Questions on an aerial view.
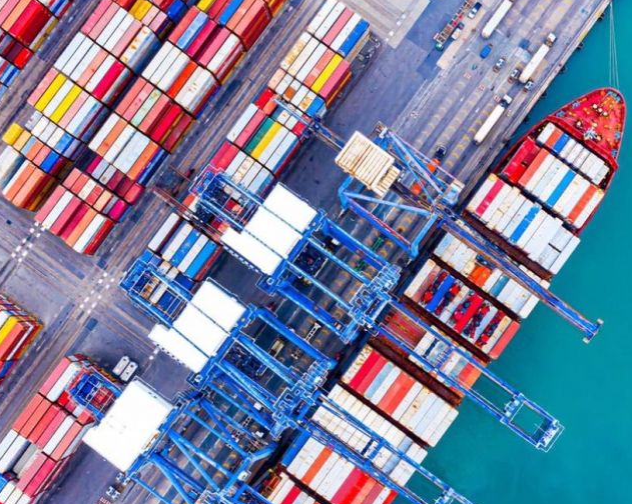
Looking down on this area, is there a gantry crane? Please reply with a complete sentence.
Yes, a gantry crane is visible in the scene.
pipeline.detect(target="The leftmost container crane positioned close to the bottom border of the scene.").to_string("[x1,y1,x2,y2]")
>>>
[59,358,287,504]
